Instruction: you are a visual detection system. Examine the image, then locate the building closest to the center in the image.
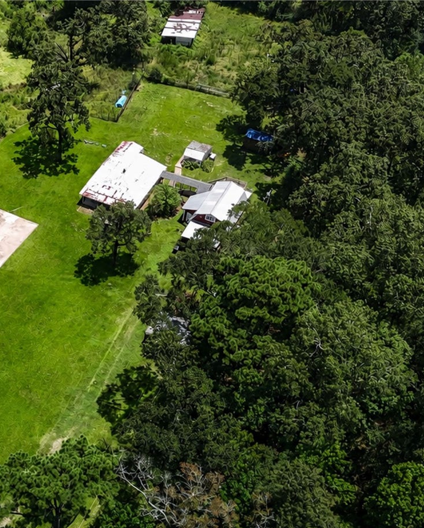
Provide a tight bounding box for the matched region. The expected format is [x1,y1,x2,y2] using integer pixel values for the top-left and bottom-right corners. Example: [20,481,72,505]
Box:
[180,180,251,249]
